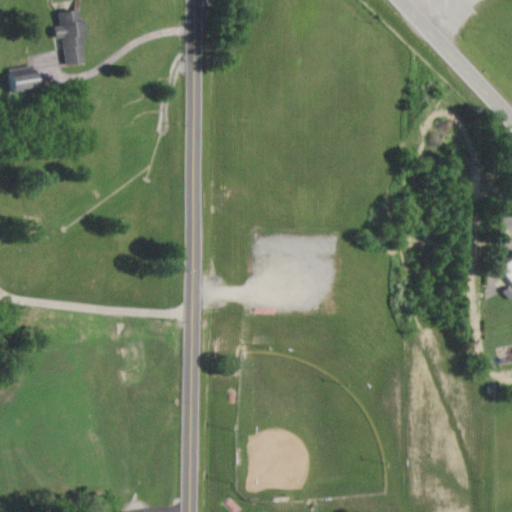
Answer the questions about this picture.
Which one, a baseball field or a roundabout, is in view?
baseball field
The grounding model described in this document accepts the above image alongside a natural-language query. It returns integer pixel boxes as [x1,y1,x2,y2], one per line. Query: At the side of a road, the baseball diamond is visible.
[236,350,385,502]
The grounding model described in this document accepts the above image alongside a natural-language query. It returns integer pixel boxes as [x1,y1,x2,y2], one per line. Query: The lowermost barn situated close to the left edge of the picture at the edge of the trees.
[8,66,42,92]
